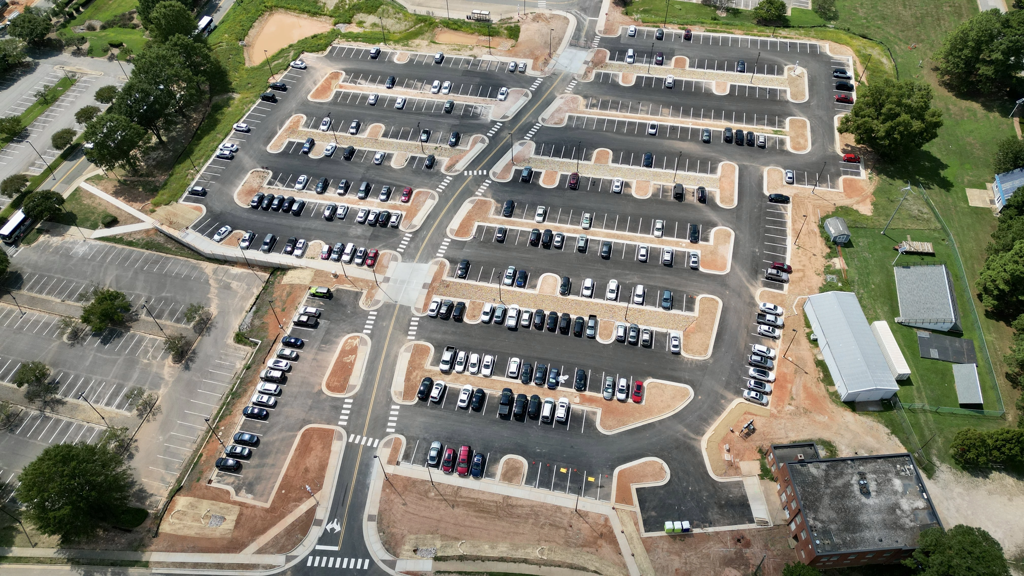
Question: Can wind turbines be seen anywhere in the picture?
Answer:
Yes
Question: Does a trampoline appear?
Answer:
No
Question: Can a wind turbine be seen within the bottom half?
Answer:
No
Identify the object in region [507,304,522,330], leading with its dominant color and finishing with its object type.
white vehicle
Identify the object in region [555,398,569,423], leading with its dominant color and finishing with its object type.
white car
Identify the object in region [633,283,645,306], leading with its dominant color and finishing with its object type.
white vehicle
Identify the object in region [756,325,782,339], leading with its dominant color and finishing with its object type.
white car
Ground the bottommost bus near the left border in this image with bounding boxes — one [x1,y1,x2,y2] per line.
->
[0,201,32,245]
